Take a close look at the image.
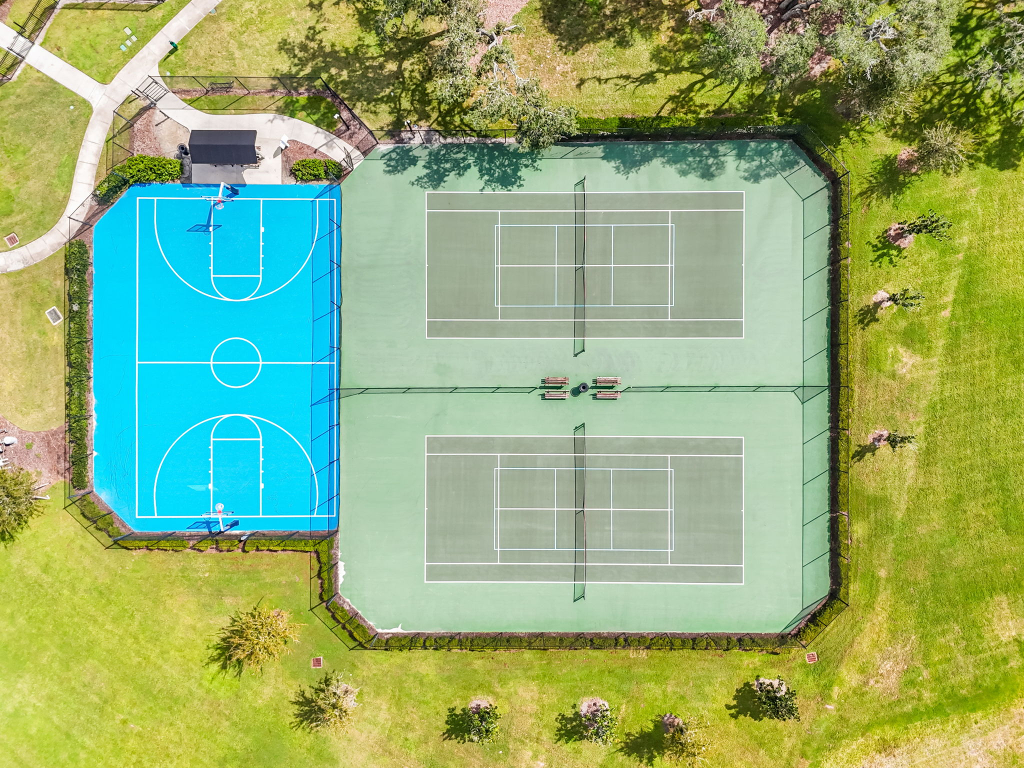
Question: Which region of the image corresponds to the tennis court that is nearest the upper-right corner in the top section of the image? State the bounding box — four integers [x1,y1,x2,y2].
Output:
[427,192,744,338]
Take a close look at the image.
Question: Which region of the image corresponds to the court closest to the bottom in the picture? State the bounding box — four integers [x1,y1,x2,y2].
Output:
[426,436,744,584]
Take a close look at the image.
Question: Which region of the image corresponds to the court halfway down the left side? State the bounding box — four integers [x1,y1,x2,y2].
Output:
[93,184,341,531]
